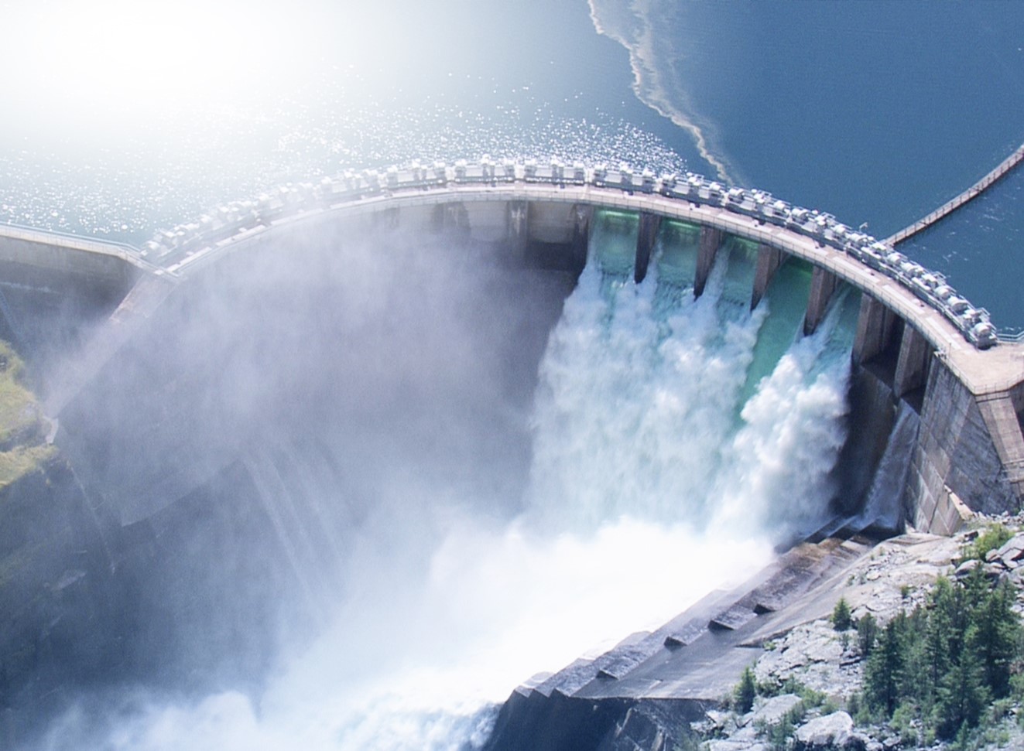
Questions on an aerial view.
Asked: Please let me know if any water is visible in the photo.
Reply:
Yes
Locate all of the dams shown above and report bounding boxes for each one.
[44,166,1024,581]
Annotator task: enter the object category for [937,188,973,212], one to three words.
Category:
pier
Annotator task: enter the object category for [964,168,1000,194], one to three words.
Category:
pier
